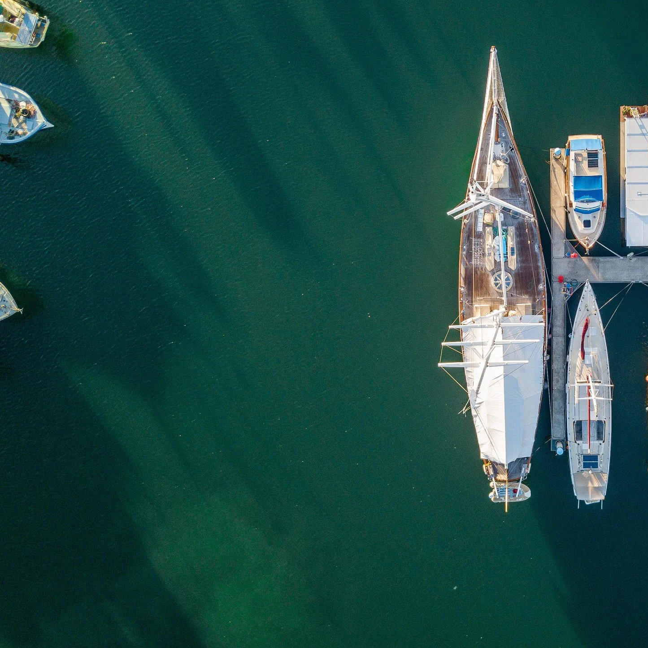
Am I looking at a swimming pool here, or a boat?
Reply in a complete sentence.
The one in the frame is a boat.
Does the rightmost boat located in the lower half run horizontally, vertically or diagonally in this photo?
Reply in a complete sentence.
I'd say the rightmost boat located in the lower half is aligned vertically in the picture.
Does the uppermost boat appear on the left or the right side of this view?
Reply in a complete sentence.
You can find the uppermost boat on the left side of the picture.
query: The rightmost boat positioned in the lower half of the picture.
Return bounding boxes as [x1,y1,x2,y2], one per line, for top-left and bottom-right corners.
[566,280,614,509]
